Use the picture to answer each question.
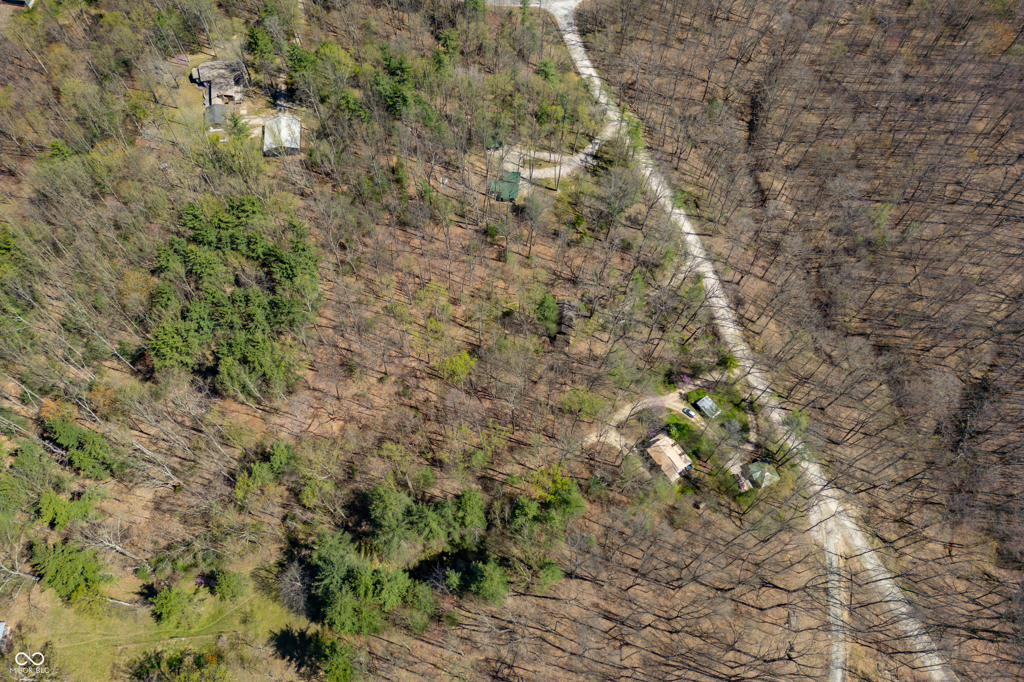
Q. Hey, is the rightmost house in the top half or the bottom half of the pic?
bottom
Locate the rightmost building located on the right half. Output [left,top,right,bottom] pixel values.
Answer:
[746,454,782,490]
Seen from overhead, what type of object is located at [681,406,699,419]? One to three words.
vehicle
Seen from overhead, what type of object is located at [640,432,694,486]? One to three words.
house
